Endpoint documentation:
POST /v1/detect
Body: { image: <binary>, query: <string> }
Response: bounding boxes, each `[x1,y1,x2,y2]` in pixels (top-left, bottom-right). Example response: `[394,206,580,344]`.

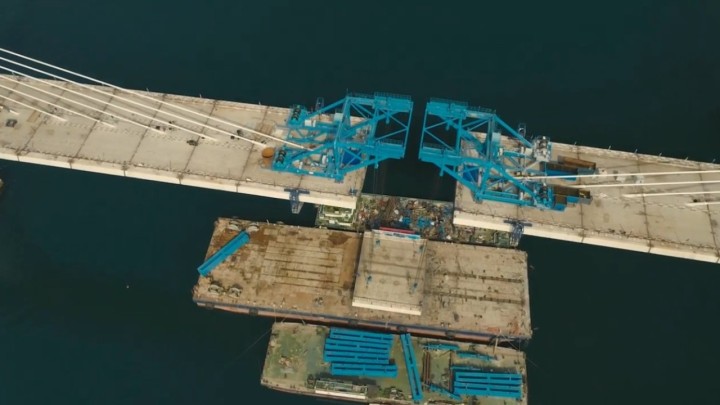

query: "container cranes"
[420,94,560,235]
[266,87,411,226]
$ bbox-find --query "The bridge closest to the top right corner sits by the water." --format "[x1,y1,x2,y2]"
[451,131,720,266]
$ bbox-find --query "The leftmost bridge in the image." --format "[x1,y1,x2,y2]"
[0,48,378,212]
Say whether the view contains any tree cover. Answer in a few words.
No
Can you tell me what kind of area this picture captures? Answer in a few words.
port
